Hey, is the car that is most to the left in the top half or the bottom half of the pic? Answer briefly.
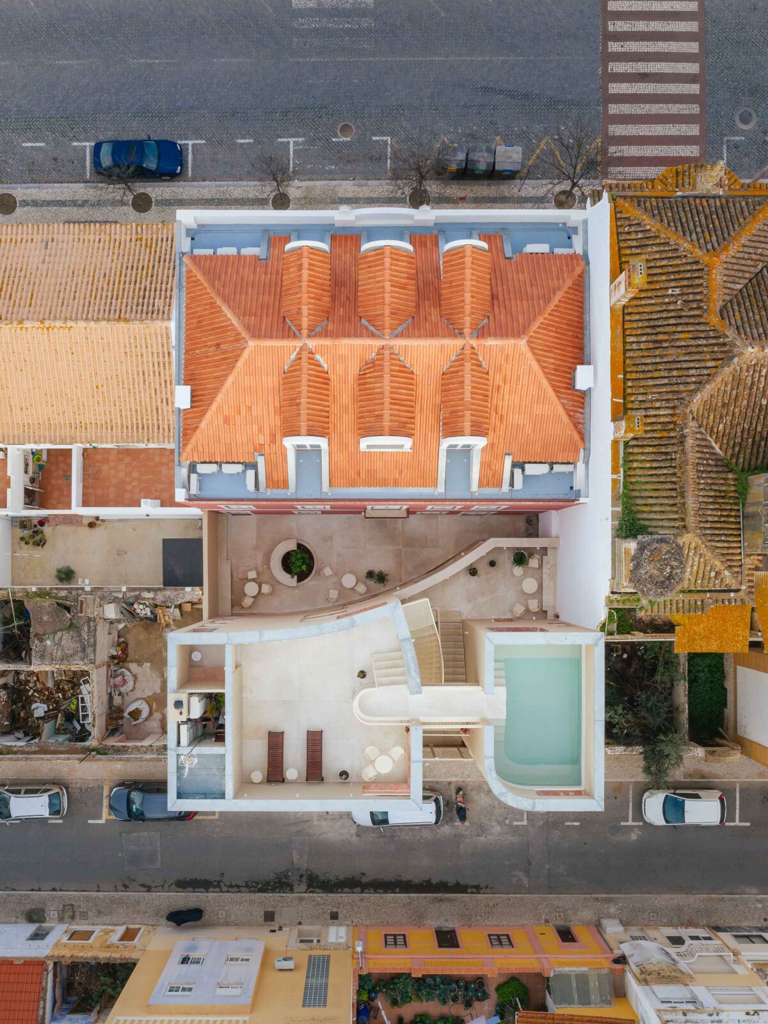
bottom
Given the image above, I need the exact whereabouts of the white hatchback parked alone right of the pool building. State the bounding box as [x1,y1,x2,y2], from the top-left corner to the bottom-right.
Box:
[639,785,728,832]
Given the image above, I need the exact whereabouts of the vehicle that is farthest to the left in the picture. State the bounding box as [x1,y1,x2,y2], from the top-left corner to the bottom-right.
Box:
[0,780,70,820]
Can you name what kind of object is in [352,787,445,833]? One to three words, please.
vehicle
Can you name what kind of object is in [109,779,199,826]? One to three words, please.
car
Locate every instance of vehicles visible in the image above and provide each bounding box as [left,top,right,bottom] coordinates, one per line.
[454,786,470,824]
[109,779,199,826]
[0,780,70,820]
[639,785,728,832]
[352,787,445,833]
[94,134,185,183]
